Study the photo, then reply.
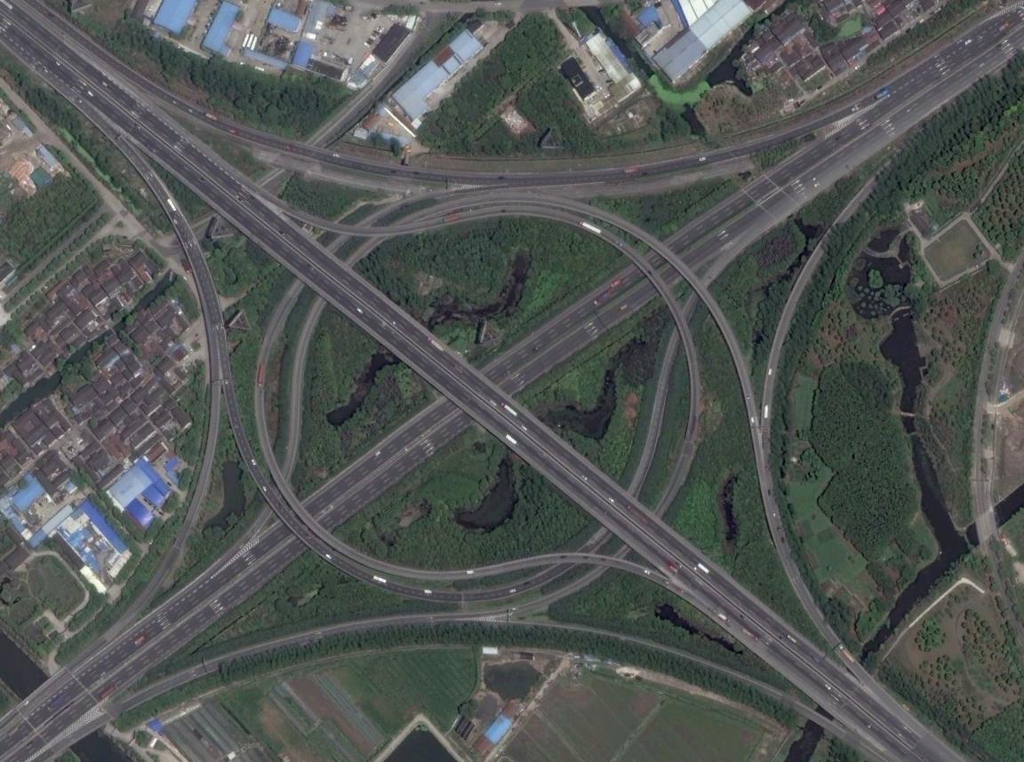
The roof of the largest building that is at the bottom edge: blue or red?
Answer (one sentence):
The roof of the largest building that is at the bottom edge is blue.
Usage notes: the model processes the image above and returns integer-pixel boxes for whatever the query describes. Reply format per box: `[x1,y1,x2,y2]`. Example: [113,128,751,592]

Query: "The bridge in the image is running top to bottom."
[974,499,997,559]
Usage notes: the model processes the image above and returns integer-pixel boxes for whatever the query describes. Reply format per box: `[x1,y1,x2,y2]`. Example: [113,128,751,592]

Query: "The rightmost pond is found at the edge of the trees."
[847,230,912,319]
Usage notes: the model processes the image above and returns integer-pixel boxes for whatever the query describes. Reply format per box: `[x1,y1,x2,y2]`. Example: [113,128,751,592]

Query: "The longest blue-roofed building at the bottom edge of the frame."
[485,715,512,744]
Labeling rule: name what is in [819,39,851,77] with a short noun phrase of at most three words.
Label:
house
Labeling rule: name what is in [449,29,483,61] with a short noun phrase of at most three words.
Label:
building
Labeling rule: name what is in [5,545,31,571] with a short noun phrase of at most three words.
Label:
house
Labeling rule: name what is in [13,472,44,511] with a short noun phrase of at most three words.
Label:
building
